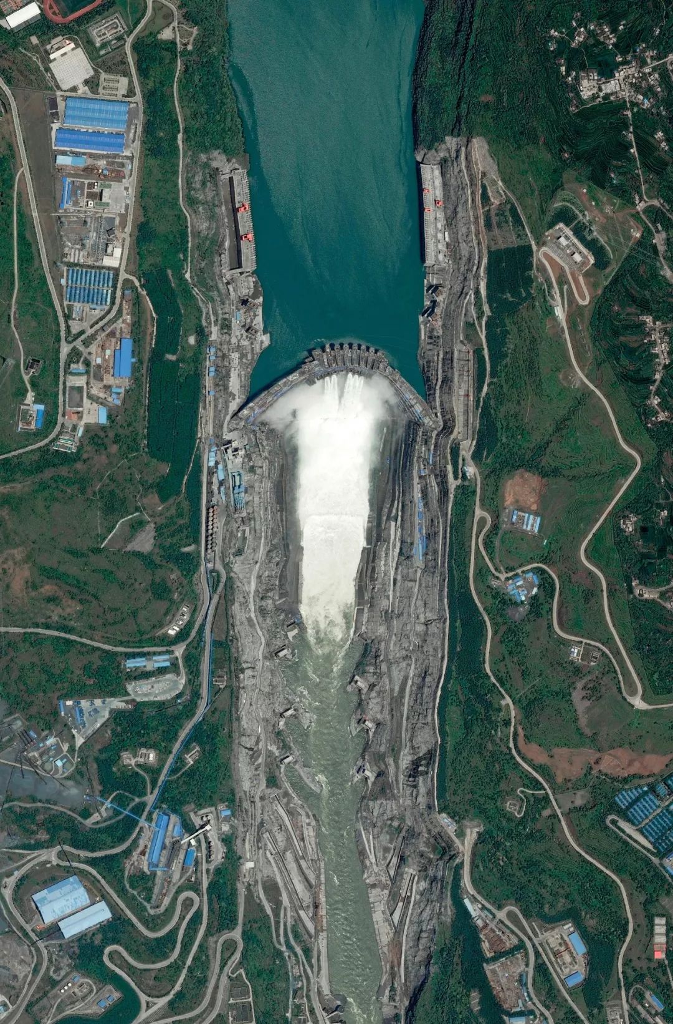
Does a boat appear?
No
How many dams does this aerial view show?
1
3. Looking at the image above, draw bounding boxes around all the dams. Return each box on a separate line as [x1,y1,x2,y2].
[229,344,442,432]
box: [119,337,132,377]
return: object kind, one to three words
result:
building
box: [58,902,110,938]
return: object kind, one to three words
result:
building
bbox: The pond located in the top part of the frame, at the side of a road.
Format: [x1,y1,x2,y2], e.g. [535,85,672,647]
[227,0,429,407]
